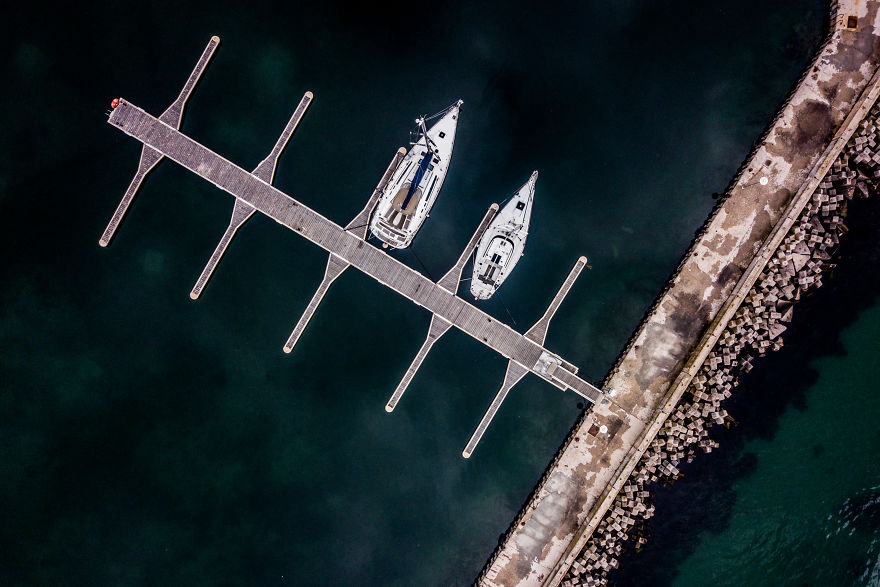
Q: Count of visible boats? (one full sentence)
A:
The number of boats here is 2.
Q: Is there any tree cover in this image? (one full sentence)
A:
No, there's no tree cover in this view.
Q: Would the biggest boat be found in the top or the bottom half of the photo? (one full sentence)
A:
Seen from above, the biggest boat lies in the top half of the view.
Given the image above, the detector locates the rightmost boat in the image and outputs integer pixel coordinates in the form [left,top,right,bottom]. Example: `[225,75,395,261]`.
[470,170,538,300]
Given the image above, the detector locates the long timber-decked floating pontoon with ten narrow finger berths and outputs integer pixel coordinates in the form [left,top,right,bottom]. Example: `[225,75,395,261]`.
[100,36,586,458]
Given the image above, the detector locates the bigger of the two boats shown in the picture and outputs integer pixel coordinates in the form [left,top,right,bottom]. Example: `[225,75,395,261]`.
[369,99,463,250]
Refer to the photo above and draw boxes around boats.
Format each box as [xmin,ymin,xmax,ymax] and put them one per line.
[470,170,538,300]
[369,99,463,250]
